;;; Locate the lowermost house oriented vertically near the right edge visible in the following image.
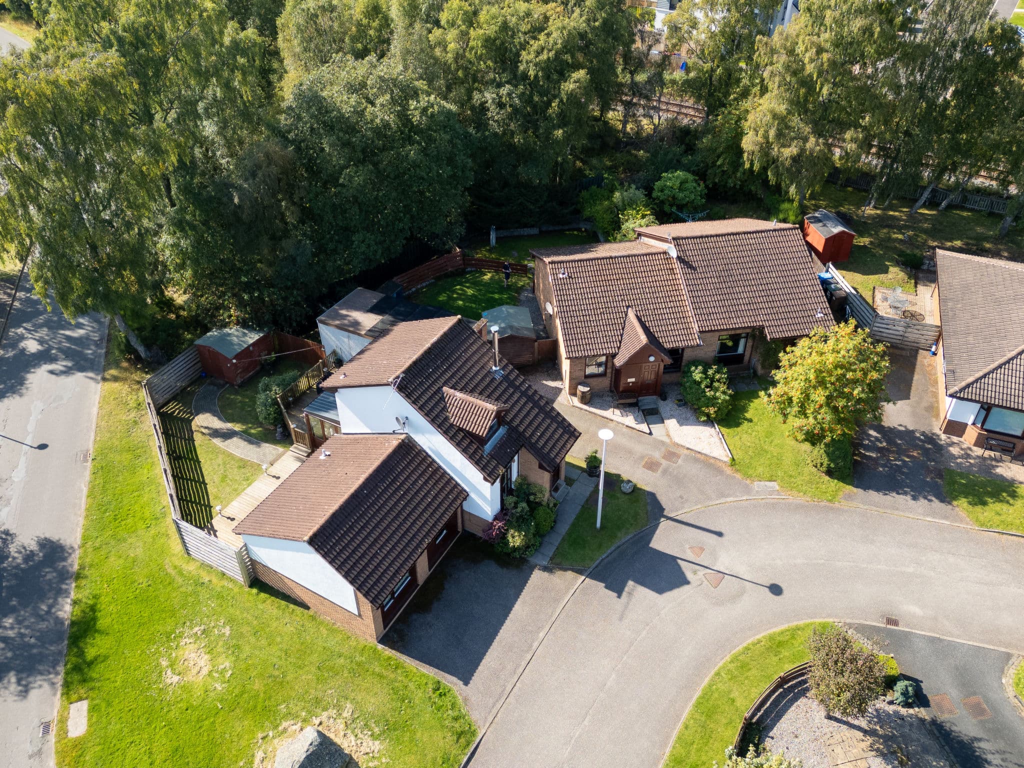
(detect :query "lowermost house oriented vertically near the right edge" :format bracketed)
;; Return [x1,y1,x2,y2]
[931,246,1024,456]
